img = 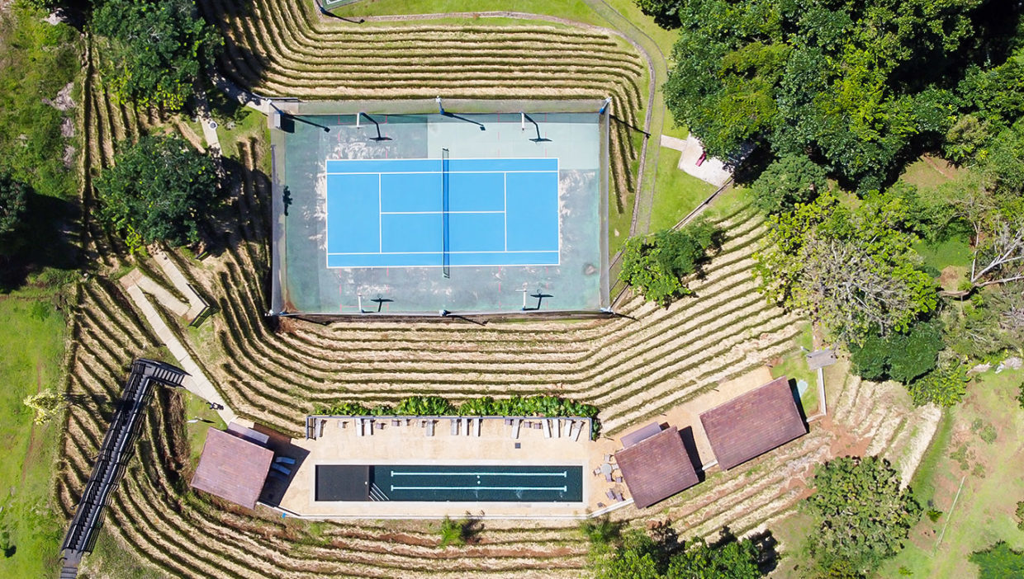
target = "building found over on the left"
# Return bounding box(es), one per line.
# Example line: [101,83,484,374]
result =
[190,419,277,510]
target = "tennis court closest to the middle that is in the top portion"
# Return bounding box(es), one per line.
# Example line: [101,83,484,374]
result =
[284,112,602,312]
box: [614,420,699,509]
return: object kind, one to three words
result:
building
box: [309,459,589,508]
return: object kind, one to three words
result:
swimming pool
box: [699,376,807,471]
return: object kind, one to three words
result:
building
